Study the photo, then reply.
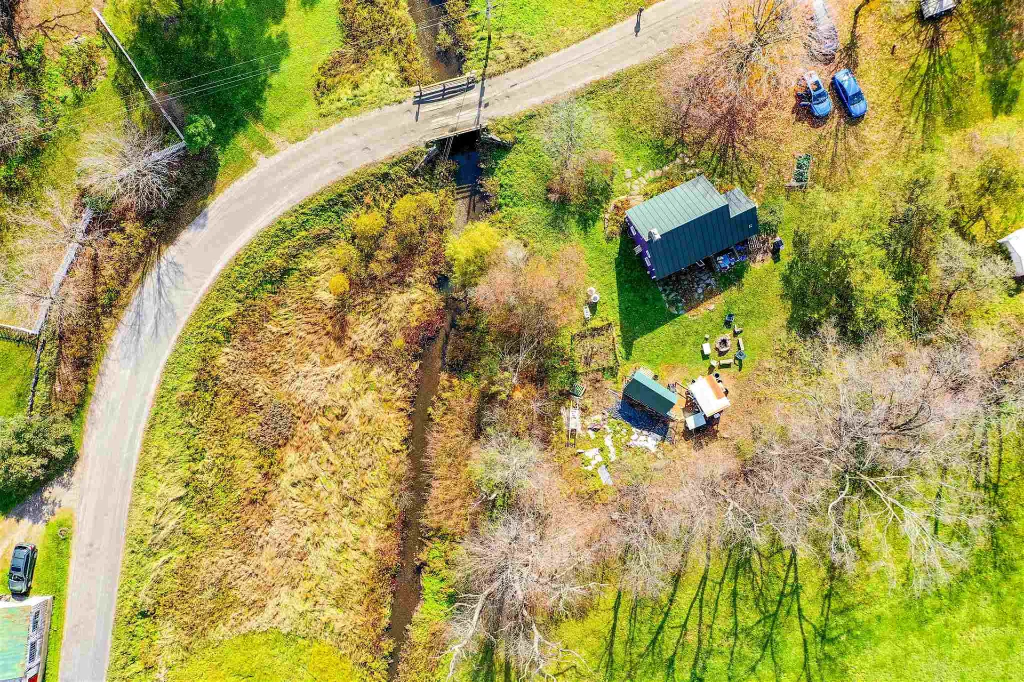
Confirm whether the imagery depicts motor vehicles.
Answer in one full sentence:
Yes, there's a motor vehicle here.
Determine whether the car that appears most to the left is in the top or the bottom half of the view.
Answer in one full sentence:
The bottom half of the photo is where the car that appears most to the left is.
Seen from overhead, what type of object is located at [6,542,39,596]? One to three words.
car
